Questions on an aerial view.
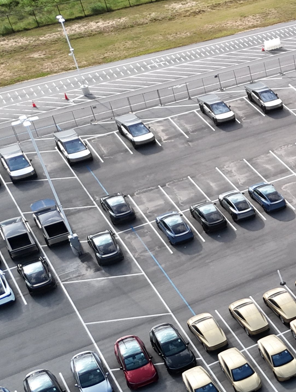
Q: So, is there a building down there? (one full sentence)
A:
No, there appears to be no building in this shot.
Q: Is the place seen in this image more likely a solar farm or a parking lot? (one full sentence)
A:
This looks like a parking lot.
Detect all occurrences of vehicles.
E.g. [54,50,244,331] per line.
[53,126,93,163]
[187,312,229,352]
[194,93,234,125]
[188,200,226,232]
[261,287,296,324]
[0,216,39,259]
[215,348,263,392]
[217,189,255,220]
[23,368,66,392]
[179,367,221,392]
[15,256,56,295]
[247,181,286,212]
[243,81,283,112]
[0,269,15,306]
[67,351,115,392]
[154,211,193,244]
[110,336,158,389]
[28,195,71,242]
[85,229,124,265]
[227,298,269,337]
[0,143,36,180]
[99,192,136,224]
[113,112,153,147]
[148,323,194,374]
[255,336,296,381]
